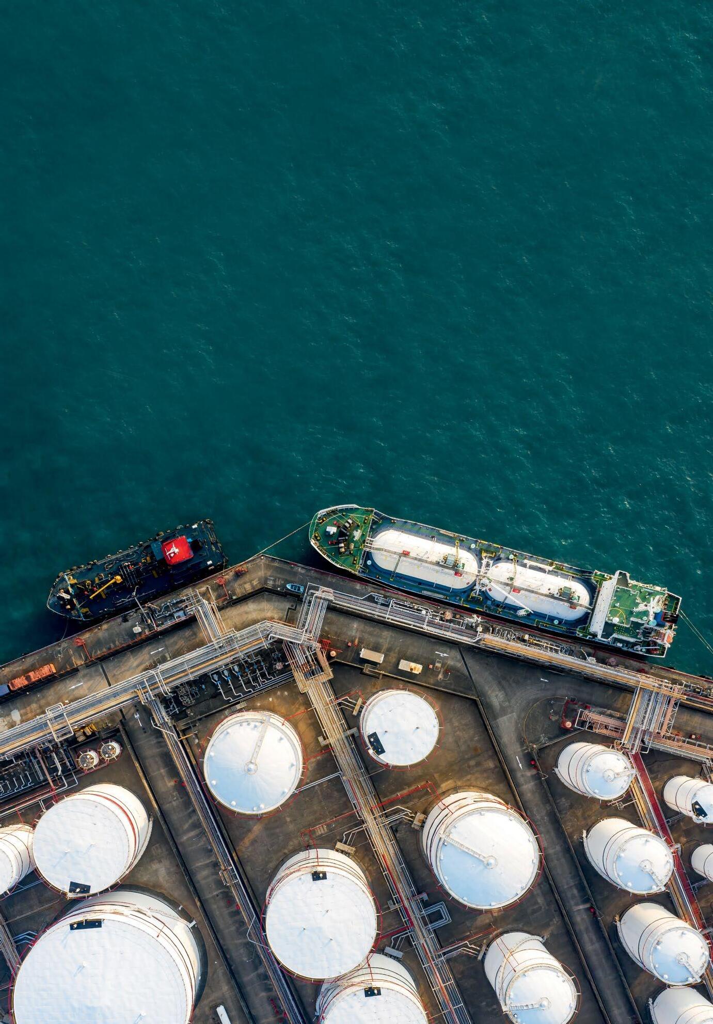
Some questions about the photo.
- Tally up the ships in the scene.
two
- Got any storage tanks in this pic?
Yes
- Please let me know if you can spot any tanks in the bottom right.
Yes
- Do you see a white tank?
Yes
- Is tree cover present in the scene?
No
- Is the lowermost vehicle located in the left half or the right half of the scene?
left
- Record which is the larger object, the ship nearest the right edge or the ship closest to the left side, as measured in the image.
the ship nearest the right edge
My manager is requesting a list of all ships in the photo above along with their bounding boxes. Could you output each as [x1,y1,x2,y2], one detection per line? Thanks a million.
[47,516,231,620]
[307,507,682,656]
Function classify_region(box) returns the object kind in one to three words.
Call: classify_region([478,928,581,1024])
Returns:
storage tank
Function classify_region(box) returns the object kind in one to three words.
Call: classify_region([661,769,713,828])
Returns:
storage tank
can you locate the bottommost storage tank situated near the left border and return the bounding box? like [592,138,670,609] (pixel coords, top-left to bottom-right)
[9,881,204,1024]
